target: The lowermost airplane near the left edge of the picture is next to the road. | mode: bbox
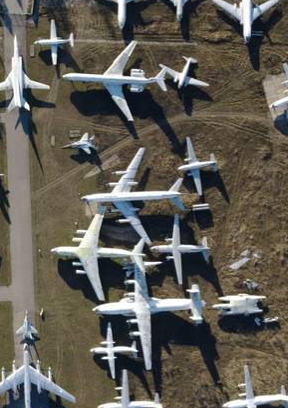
[0,344,76,408]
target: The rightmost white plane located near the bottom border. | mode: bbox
[222,364,288,408]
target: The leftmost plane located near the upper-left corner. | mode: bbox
[0,33,50,109]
